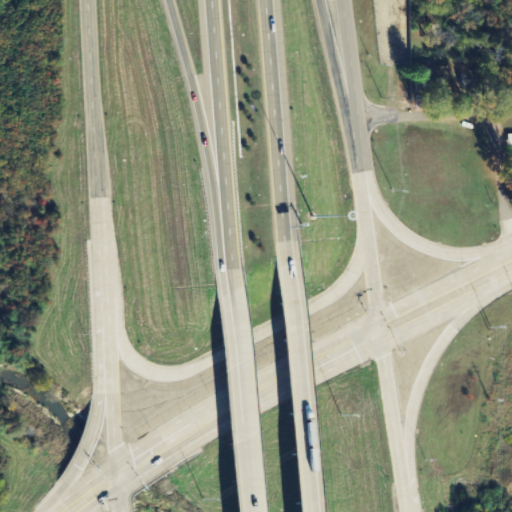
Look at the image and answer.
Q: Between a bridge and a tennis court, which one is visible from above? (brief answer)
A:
bridge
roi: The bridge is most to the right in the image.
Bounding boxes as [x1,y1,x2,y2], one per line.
[276,242,326,512]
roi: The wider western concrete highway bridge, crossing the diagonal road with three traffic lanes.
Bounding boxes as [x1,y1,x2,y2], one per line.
[214,268,268,512]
